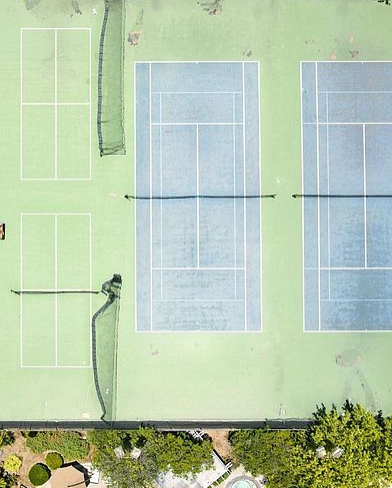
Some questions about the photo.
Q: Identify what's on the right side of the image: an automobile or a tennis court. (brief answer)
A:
tennis court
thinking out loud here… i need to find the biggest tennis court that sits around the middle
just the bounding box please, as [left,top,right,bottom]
[135,62,263,333]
